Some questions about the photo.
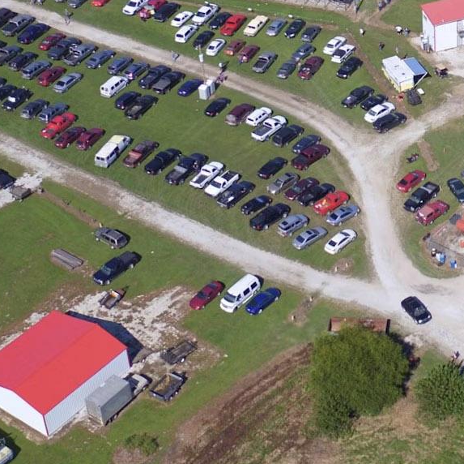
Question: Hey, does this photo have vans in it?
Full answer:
Yes, the photo shows a van.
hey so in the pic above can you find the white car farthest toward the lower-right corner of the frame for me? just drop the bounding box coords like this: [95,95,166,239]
[325,229,357,255]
